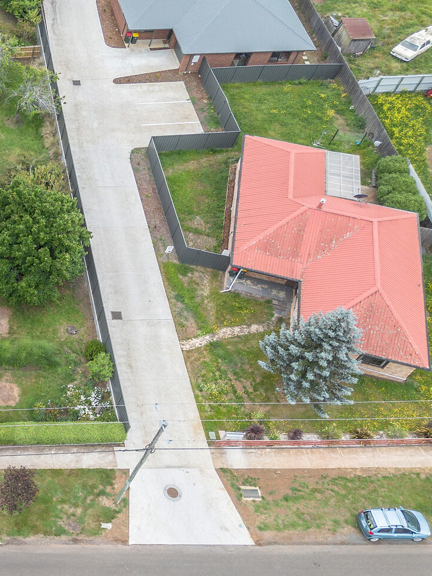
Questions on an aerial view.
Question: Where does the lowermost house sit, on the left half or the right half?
right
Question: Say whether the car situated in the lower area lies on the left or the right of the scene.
right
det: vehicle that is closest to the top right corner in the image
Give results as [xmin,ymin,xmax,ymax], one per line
[387,30,432,62]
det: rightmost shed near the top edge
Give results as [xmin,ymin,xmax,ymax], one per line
[336,17,375,58]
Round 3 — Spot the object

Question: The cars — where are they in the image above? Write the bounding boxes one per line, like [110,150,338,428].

[352,502,432,543]
[387,30,432,62]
